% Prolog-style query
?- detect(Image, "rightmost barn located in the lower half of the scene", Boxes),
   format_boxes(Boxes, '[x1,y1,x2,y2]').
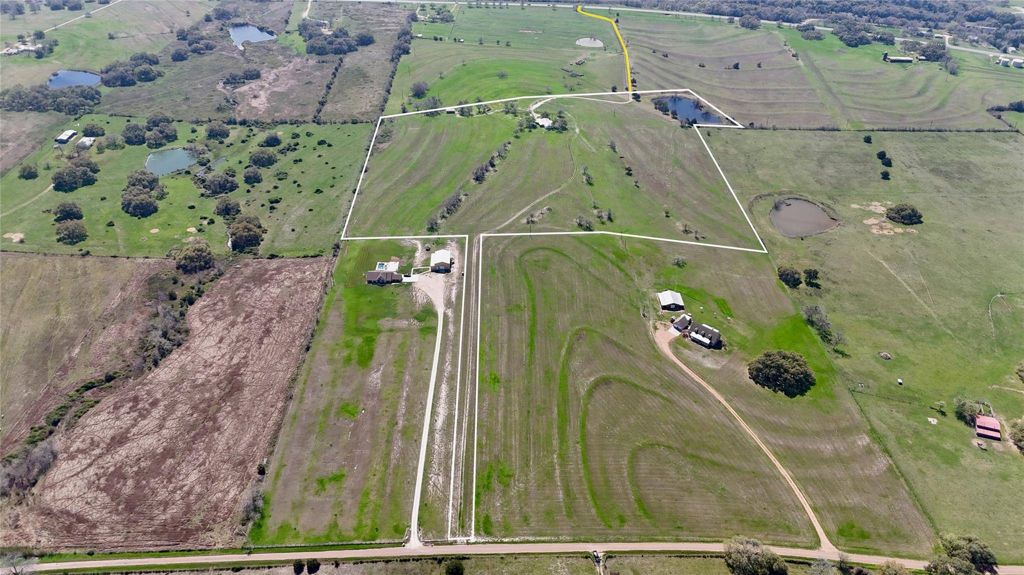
[970,410,1004,441]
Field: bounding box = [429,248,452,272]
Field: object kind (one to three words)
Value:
building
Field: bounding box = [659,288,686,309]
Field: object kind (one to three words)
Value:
building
